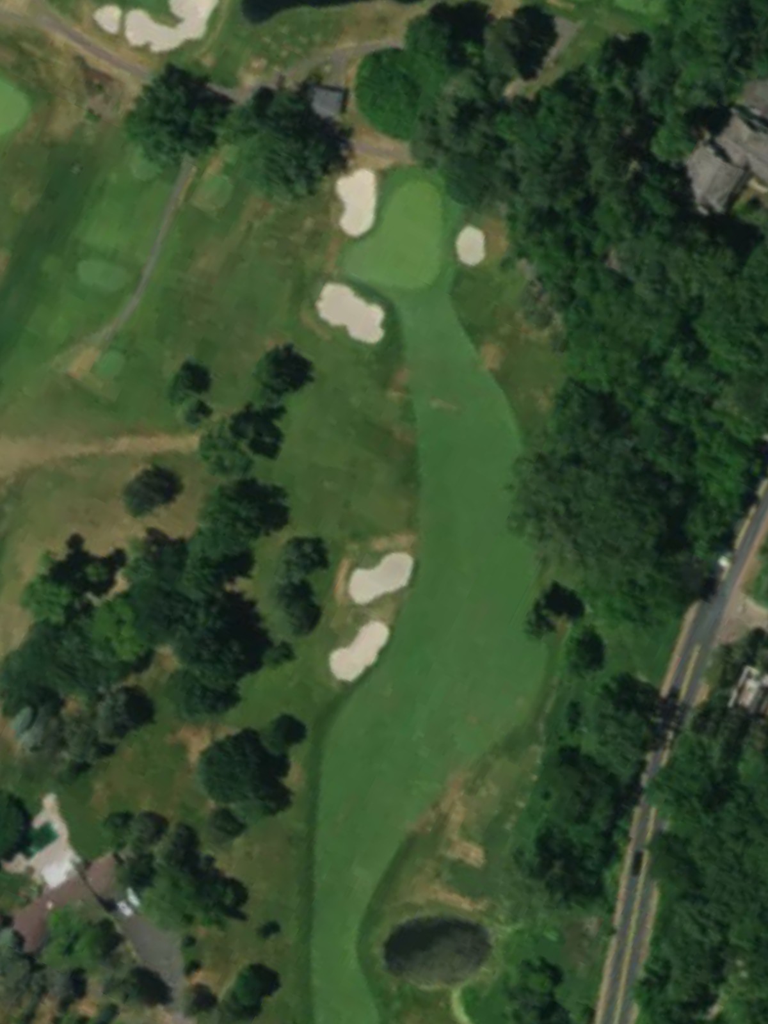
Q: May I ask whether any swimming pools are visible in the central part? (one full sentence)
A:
No, no swimming pool appears in the central part.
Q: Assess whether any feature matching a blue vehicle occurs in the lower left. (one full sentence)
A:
No, I see no blue vehicle in the lower left.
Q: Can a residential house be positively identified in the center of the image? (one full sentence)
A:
No, there is no residential house in the center of the image.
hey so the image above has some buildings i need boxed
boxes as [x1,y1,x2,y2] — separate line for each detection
[311,85,345,117]
[727,666,768,716]
[684,72,768,208]
[11,855,128,955]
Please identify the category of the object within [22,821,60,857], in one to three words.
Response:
swimming pool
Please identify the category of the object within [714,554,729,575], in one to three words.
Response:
vehicle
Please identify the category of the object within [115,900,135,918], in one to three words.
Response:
car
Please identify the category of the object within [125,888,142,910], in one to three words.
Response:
car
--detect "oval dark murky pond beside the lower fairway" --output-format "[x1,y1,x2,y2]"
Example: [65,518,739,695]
[388,919,491,980]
